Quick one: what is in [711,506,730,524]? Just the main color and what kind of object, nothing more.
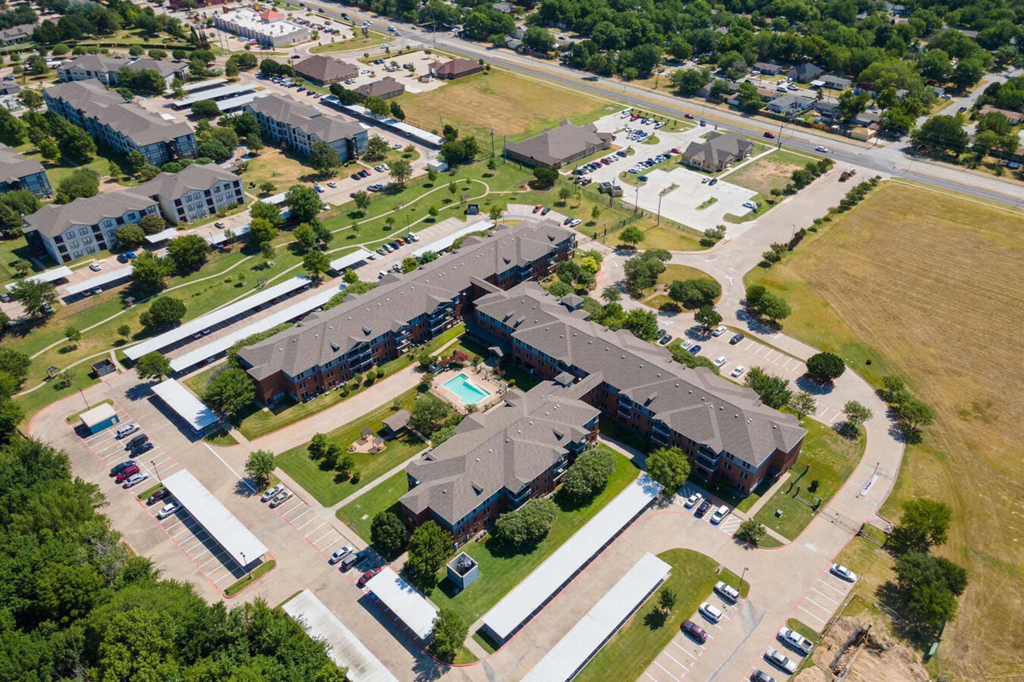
white car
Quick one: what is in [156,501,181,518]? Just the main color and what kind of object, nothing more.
white car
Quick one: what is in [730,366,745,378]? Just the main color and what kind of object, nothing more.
white vehicle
